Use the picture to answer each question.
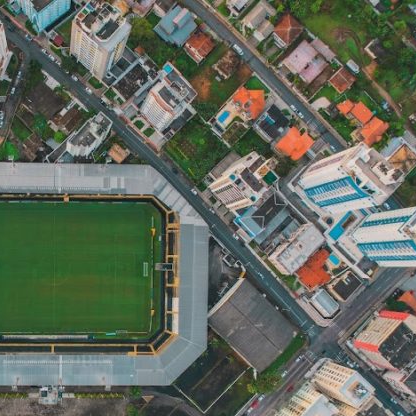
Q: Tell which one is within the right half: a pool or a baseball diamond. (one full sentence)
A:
There is a pool within the right half.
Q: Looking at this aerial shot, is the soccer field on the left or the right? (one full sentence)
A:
The soccer field is on the left side of the image.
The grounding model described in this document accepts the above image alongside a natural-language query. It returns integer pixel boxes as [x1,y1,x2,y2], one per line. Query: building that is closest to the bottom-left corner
[40,386,62,404]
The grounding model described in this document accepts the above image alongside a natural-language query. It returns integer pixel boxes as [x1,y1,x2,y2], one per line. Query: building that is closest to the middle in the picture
[203,191,239,231]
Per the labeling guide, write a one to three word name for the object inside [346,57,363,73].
camper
